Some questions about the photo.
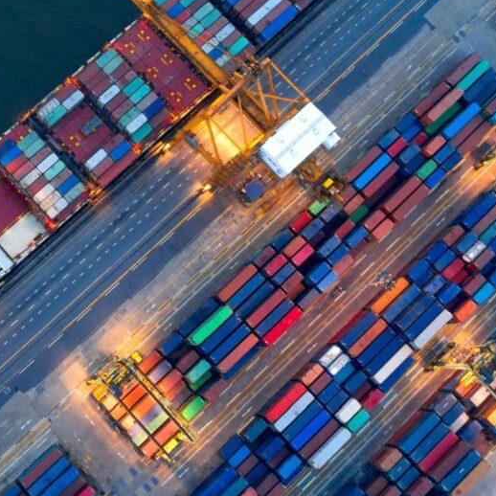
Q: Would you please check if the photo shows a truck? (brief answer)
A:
Yes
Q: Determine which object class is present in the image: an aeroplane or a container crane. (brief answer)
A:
container crane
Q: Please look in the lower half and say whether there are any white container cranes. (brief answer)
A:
No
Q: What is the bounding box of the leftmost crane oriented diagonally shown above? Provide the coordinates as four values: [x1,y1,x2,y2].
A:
[86,357,199,465]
